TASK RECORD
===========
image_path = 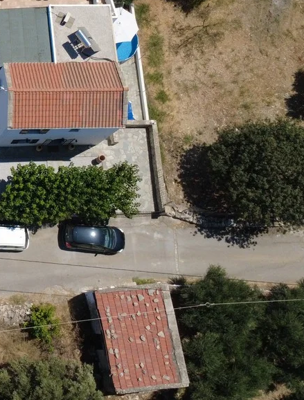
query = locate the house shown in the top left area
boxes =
[0,0,132,152]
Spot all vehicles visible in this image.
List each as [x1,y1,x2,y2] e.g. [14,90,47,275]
[57,223,124,258]
[0,225,30,255]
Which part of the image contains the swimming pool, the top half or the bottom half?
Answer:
top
